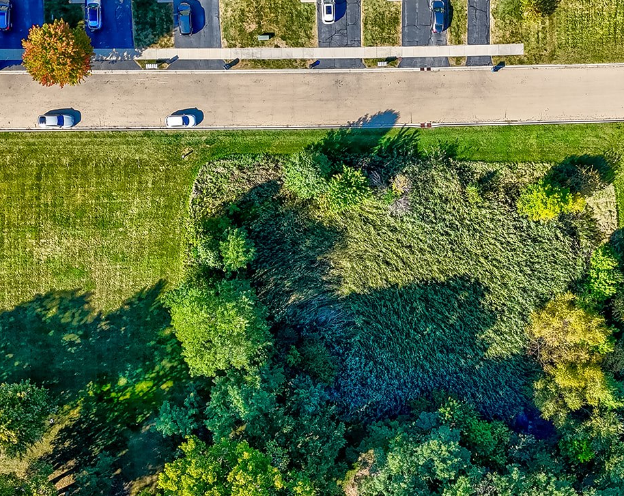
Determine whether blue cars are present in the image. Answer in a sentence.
Yes, there is a blue car in the image.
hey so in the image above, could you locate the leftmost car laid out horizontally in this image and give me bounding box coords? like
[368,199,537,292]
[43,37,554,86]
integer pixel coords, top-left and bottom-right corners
[39,112,76,129]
